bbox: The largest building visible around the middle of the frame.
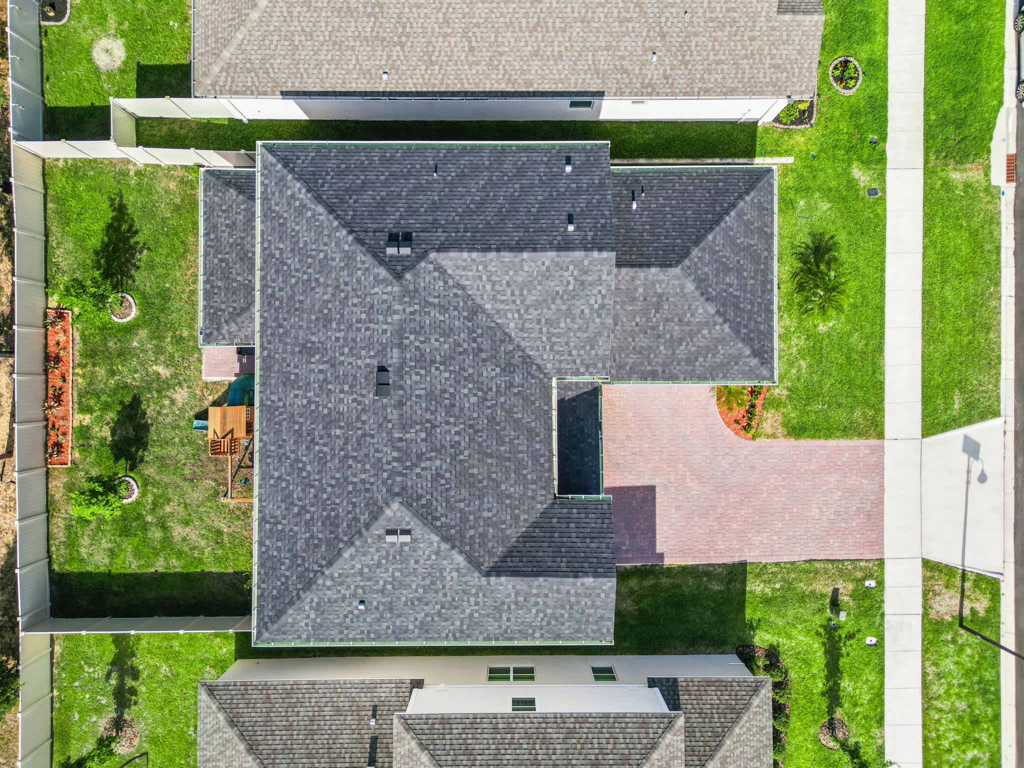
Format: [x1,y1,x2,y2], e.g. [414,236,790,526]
[198,140,779,647]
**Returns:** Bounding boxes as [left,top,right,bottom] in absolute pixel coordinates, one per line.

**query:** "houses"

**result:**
[198,140,779,647]
[189,0,828,121]
[196,656,773,768]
